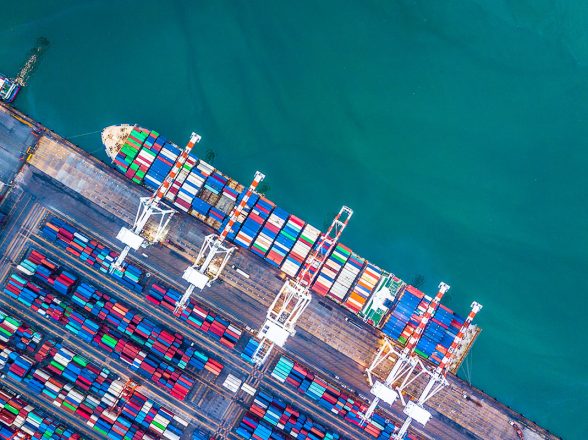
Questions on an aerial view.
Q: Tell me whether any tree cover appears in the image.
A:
No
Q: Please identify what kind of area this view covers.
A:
port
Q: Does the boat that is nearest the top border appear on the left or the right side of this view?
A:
left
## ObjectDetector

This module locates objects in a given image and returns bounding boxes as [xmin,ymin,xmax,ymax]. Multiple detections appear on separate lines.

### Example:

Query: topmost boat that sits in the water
[0,72,20,102]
